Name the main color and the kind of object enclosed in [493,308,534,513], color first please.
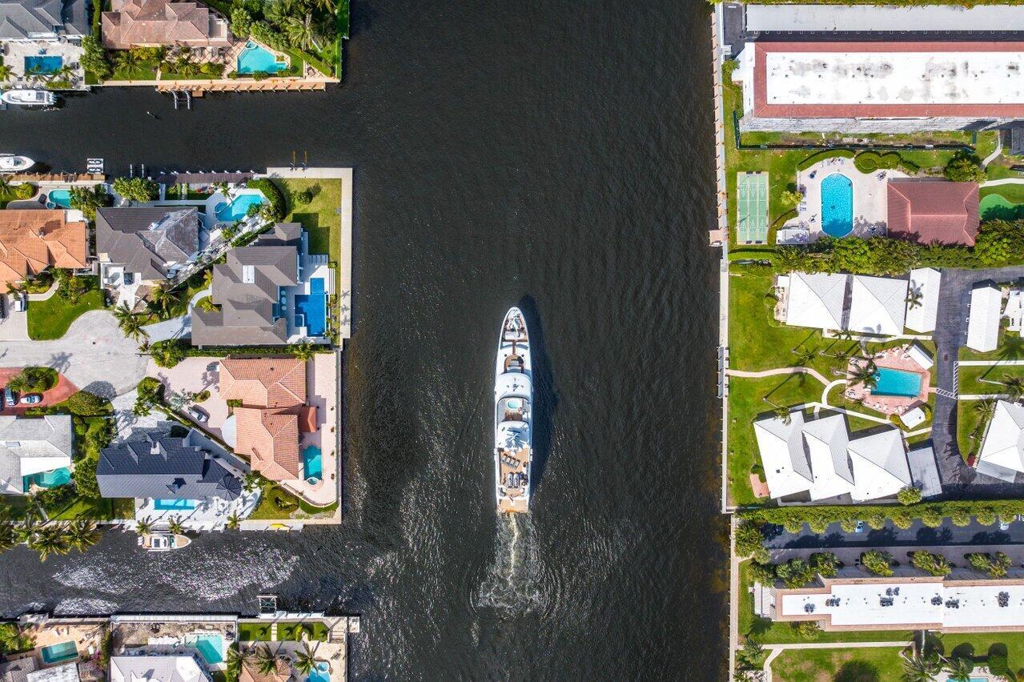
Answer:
white boat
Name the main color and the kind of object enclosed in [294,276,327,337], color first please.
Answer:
blue swimming pool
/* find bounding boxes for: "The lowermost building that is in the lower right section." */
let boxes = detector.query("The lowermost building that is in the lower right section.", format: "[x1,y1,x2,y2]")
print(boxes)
[753,572,1024,633]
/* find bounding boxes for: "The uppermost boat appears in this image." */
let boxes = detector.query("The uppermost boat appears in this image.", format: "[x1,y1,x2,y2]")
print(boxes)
[3,91,59,107]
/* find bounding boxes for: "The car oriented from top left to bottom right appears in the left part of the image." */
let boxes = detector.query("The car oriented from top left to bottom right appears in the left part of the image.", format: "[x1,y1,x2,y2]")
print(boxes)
[187,406,208,422]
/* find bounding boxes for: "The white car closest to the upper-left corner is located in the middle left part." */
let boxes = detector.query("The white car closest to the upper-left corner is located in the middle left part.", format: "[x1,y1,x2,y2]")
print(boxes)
[15,291,27,314]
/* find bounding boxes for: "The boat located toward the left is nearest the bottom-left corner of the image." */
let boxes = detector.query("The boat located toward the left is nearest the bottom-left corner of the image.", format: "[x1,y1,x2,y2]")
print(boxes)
[141,532,195,548]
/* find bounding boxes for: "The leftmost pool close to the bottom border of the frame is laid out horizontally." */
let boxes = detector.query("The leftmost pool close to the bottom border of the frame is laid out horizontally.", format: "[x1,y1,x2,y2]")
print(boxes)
[40,640,80,665]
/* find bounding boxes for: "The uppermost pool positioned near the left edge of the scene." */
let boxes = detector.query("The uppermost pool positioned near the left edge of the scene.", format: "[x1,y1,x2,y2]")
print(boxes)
[23,54,63,75]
